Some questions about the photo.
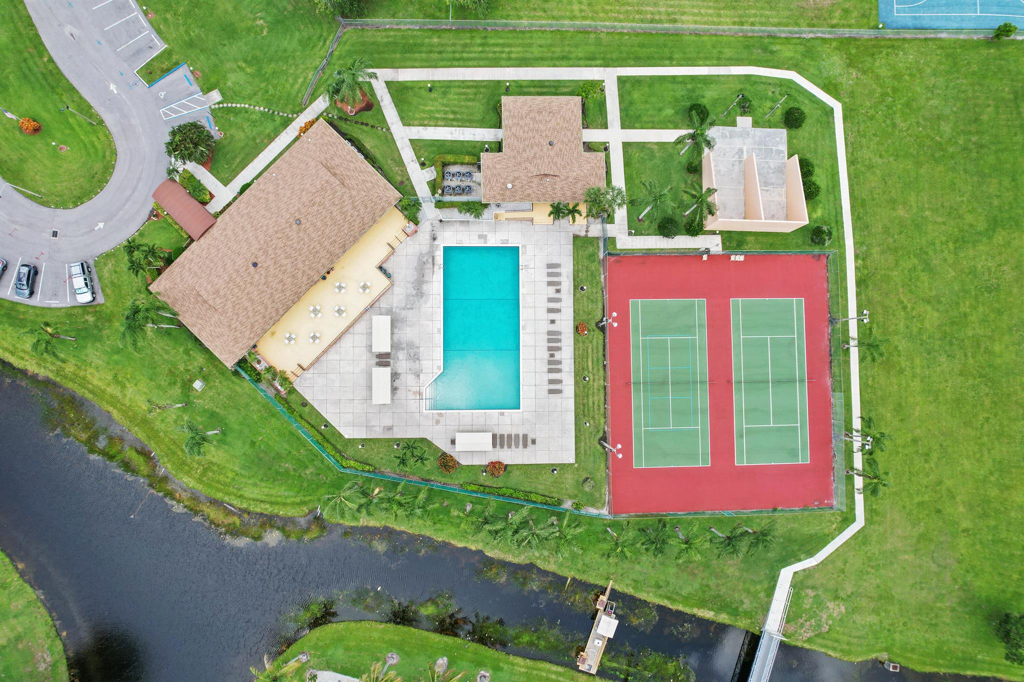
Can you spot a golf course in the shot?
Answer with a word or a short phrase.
No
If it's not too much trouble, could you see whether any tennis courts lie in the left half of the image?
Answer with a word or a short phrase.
No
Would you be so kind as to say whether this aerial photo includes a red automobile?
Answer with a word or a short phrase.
No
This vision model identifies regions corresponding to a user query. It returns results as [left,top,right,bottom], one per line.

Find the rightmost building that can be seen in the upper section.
[481,96,606,203]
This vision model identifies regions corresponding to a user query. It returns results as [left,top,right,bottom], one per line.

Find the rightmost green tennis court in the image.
[726,298,817,466]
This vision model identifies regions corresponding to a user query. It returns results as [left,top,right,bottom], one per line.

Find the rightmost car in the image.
[67,261,95,305]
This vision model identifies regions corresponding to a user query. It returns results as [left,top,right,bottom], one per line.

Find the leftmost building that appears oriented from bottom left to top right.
[151,119,402,368]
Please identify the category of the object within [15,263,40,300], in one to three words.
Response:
car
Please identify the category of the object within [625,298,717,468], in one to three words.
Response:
tennis court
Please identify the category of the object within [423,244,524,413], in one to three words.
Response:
swimming pool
